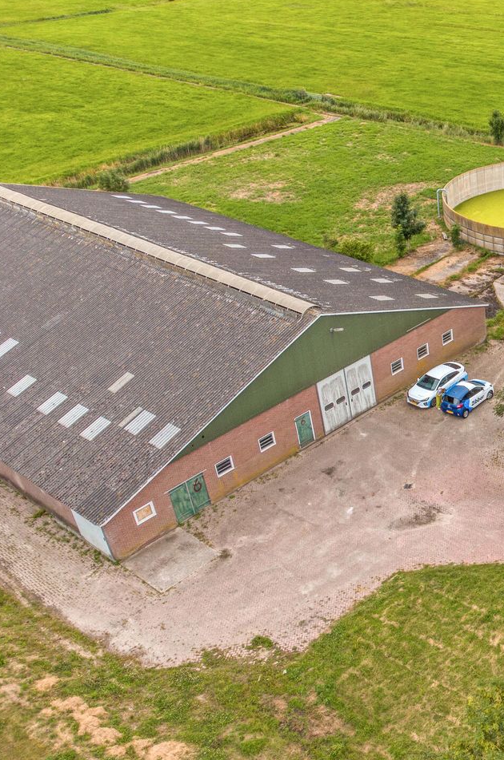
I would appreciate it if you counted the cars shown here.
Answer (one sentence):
There are 2 cars in the image.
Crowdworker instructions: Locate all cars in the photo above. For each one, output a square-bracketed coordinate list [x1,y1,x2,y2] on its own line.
[408,355,470,404]
[439,378,495,418]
